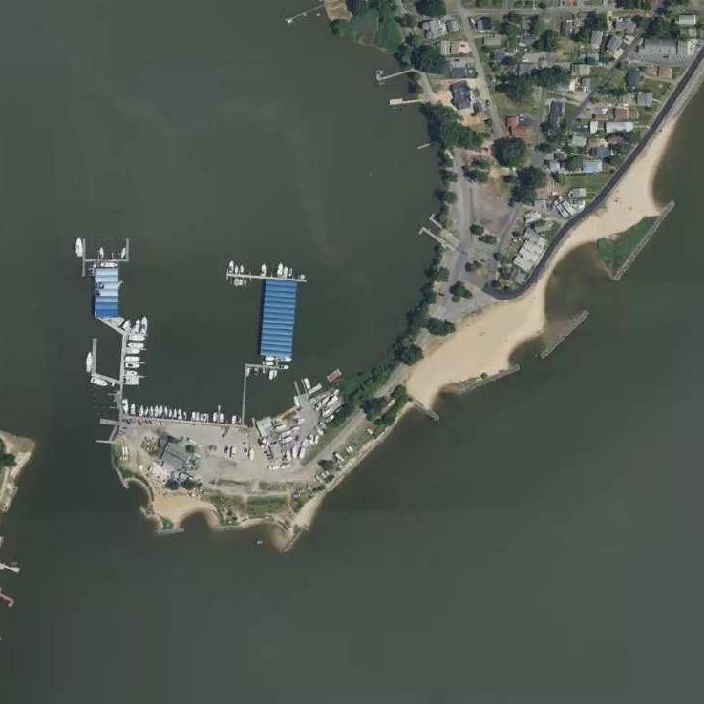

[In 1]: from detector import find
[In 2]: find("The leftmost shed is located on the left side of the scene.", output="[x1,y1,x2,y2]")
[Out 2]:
[94,267,119,317]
